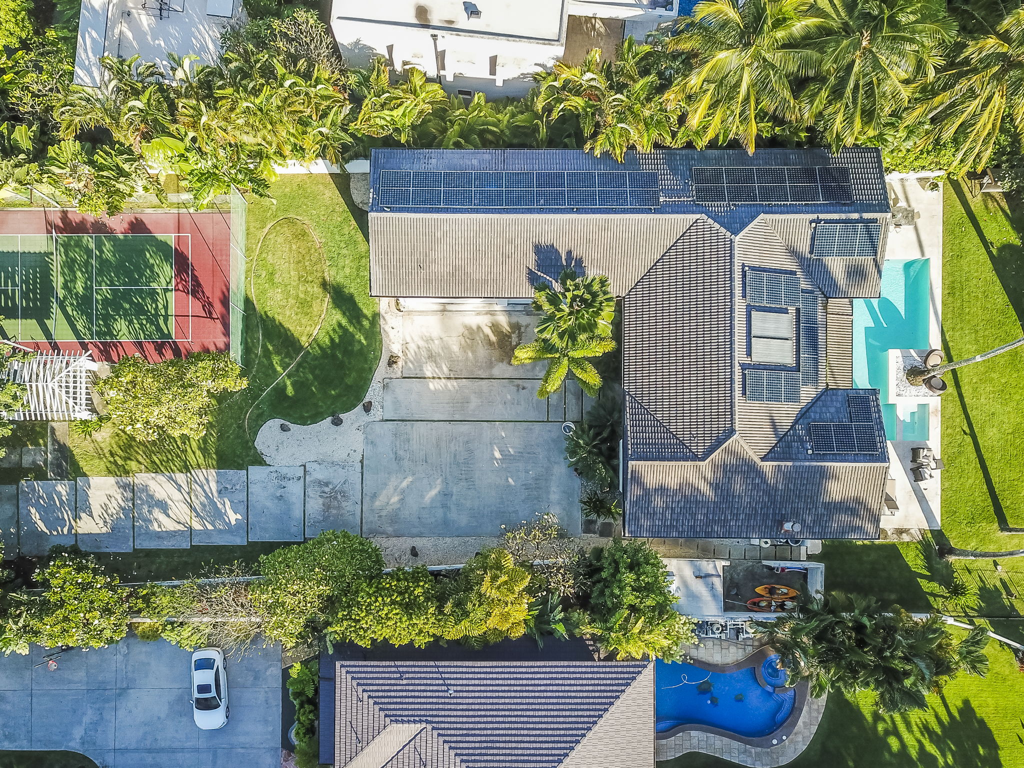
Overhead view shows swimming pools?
Yes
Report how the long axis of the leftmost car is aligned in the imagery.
vertically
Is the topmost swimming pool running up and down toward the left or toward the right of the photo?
right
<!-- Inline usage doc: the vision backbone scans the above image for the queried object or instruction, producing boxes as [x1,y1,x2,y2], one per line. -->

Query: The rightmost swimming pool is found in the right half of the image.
[853,258,931,440]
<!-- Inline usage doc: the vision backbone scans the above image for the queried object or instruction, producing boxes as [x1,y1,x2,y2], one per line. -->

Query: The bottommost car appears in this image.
[185,649,229,734]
